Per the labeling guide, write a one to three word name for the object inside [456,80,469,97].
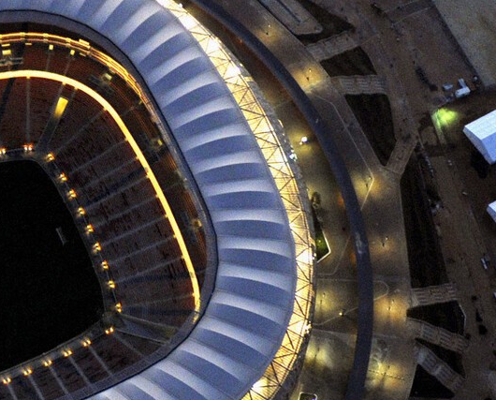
vehicle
